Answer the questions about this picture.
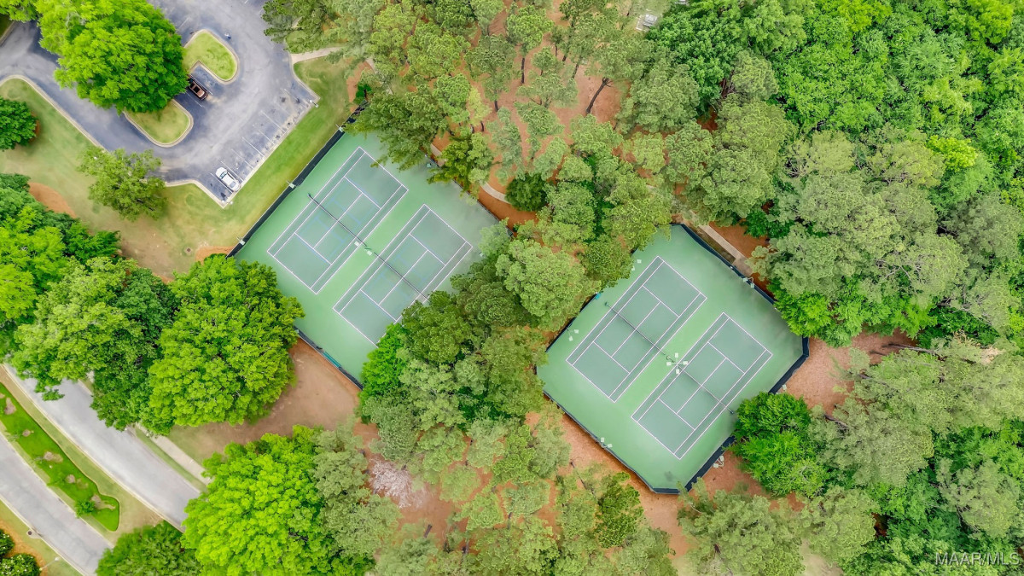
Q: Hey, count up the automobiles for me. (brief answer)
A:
2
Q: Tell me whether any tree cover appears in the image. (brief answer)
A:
Yes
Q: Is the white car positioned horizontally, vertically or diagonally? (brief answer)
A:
diagonally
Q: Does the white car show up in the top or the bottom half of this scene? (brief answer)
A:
top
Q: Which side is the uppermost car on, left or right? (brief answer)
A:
left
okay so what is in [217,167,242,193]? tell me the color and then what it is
white car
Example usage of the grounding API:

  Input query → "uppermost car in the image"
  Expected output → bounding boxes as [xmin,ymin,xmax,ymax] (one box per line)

[185,75,212,101]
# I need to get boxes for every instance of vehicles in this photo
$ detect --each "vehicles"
[185,75,212,101]
[217,167,242,193]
